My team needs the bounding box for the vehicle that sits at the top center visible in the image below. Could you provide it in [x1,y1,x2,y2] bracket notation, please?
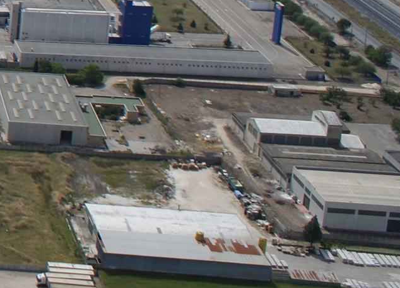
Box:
[150,21,170,41]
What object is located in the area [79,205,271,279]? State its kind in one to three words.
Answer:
shed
